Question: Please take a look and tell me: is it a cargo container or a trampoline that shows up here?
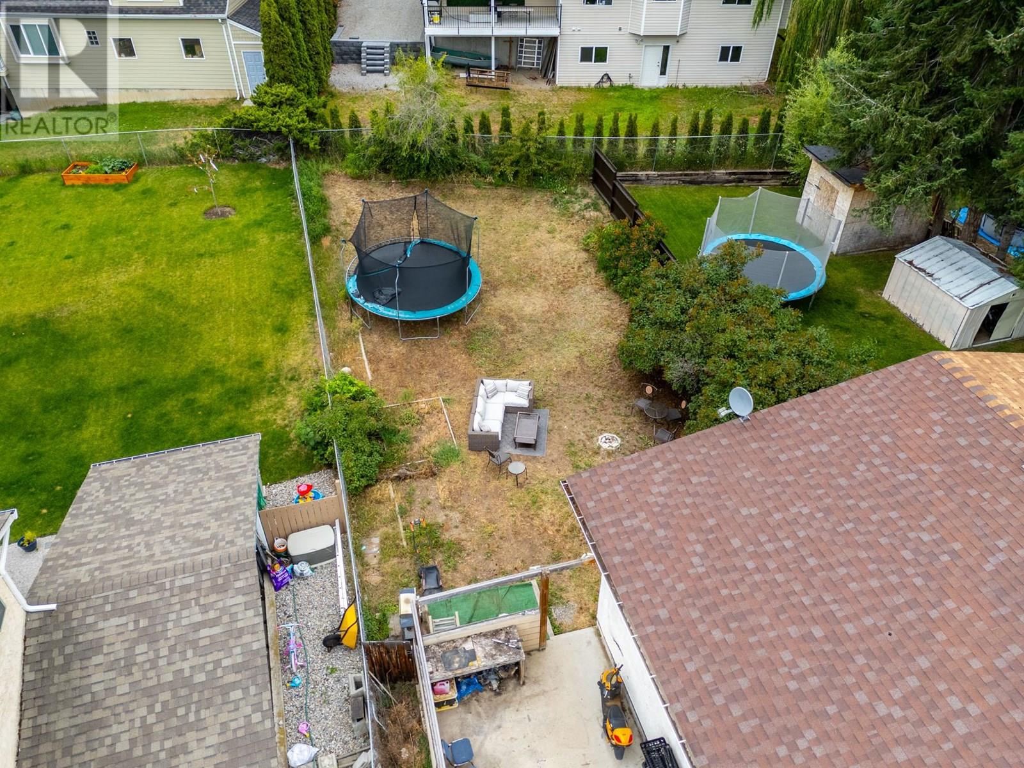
trampoline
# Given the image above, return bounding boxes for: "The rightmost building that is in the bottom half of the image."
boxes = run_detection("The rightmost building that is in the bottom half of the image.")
[560,335,1024,768]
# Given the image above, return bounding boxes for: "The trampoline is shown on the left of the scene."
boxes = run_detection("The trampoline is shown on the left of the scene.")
[334,186,485,344]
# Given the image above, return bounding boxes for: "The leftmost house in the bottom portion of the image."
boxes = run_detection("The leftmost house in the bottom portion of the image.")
[0,431,284,768]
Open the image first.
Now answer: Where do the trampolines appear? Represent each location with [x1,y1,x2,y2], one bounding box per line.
[334,186,485,344]
[705,187,840,316]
